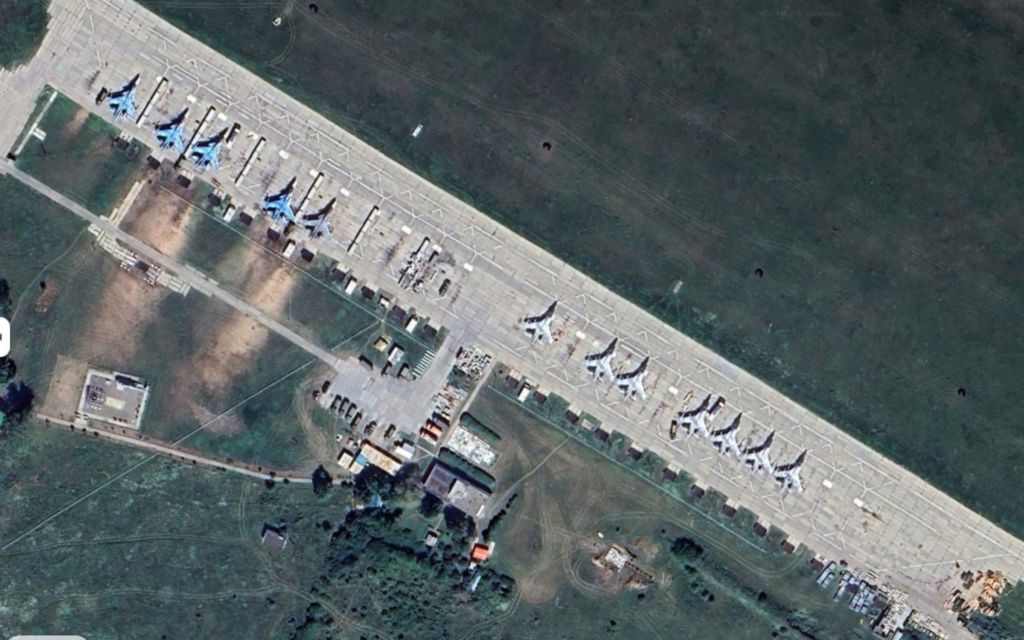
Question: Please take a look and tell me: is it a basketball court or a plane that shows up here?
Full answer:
Of the two, only a plane appears.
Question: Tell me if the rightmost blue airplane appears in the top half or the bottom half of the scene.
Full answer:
The rightmost blue airplane sits in the top half of the picture.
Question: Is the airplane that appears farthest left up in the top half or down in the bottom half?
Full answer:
The top half of the photo is where the airplane that appears farthest left is.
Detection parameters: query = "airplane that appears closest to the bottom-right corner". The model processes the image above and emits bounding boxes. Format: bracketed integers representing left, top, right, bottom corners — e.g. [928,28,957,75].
[776,452,810,499]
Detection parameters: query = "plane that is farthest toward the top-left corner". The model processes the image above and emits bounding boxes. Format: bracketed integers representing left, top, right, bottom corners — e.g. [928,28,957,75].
[106,75,141,122]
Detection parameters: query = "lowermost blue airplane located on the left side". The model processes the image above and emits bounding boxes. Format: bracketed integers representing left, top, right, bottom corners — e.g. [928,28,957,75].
[263,180,297,226]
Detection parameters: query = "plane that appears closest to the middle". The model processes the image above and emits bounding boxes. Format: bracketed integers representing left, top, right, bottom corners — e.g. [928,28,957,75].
[526,303,560,349]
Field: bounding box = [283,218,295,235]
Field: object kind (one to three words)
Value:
vehicle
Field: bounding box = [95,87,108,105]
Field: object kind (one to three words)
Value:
vehicle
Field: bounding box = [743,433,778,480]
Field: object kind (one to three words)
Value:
airplane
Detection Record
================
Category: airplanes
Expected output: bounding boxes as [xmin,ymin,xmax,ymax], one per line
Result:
[106,75,141,122]
[617,360,651,405]
[303,201,337,247]
[156,110,190,157]
[586,339,620,386]
[710,415,744,461]
[263,180,297,226]
[526,303,560,349]
[776,452,810,499]
[193,127,228,175]
[680,396,714,443]
[743,433,778,480]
